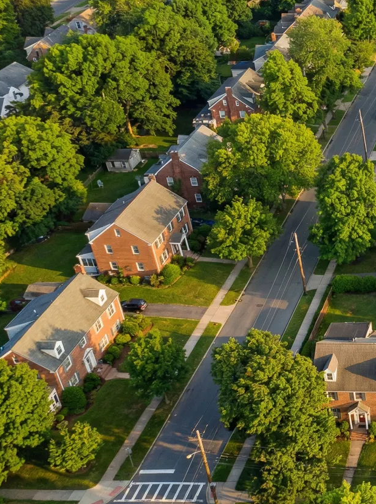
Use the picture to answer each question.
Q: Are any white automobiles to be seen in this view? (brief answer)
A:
No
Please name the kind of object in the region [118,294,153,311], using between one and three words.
car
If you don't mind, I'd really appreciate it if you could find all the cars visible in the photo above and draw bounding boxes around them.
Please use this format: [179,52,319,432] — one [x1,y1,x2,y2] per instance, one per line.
[5,294,30,312]
[118,294,153,311]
